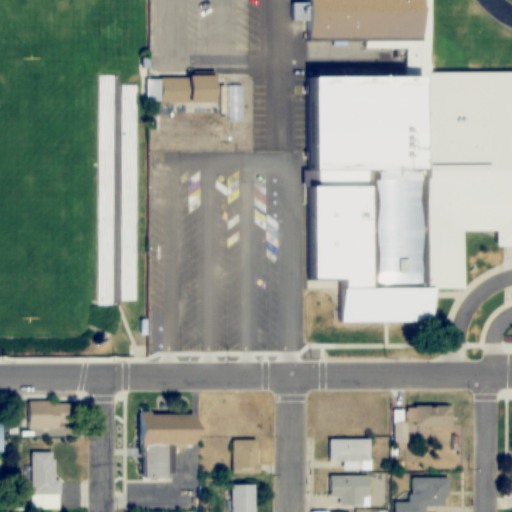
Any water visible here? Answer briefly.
No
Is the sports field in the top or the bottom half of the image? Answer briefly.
top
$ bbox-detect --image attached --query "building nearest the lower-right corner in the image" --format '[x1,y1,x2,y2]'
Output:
[395,476,450,512]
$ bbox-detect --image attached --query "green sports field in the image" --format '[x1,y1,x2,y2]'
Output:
[0,0,144,338]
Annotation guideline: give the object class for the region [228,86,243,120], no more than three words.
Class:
shed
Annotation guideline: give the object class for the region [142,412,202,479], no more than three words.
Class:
building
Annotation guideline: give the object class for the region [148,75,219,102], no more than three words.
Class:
building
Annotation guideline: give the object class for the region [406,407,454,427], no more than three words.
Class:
house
